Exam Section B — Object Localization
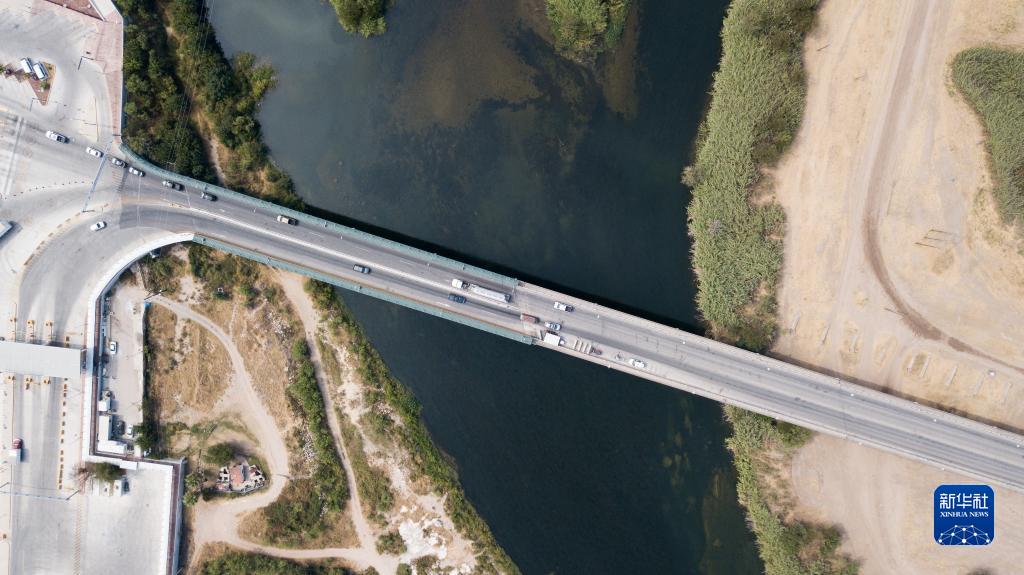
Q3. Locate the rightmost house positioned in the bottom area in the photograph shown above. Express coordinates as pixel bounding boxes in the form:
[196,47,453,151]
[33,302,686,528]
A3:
[215,463,265,492]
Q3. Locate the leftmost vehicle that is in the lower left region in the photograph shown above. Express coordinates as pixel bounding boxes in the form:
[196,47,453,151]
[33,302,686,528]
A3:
[9,438,24,467]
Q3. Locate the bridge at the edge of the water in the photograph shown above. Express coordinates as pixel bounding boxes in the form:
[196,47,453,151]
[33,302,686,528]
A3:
[117,146,1024,491]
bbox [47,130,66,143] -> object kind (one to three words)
vehicle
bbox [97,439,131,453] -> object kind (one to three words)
building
